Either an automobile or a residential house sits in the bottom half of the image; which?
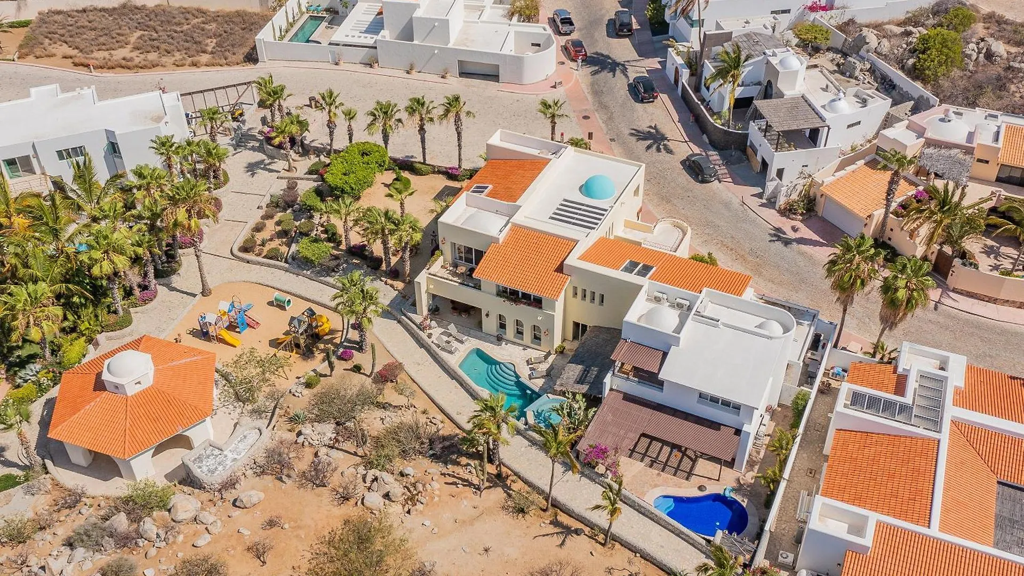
residential house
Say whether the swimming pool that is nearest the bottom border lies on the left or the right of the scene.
right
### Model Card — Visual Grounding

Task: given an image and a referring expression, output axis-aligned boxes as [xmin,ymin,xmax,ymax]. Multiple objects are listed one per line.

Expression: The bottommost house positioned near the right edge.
[794,342,1024,576]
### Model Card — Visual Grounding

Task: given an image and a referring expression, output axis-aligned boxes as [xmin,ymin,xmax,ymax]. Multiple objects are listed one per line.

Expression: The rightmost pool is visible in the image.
[644,485,759,545]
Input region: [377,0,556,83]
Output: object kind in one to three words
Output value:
house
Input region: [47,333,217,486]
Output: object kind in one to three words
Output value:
gazebo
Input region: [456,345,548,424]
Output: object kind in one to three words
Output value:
swimming pool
